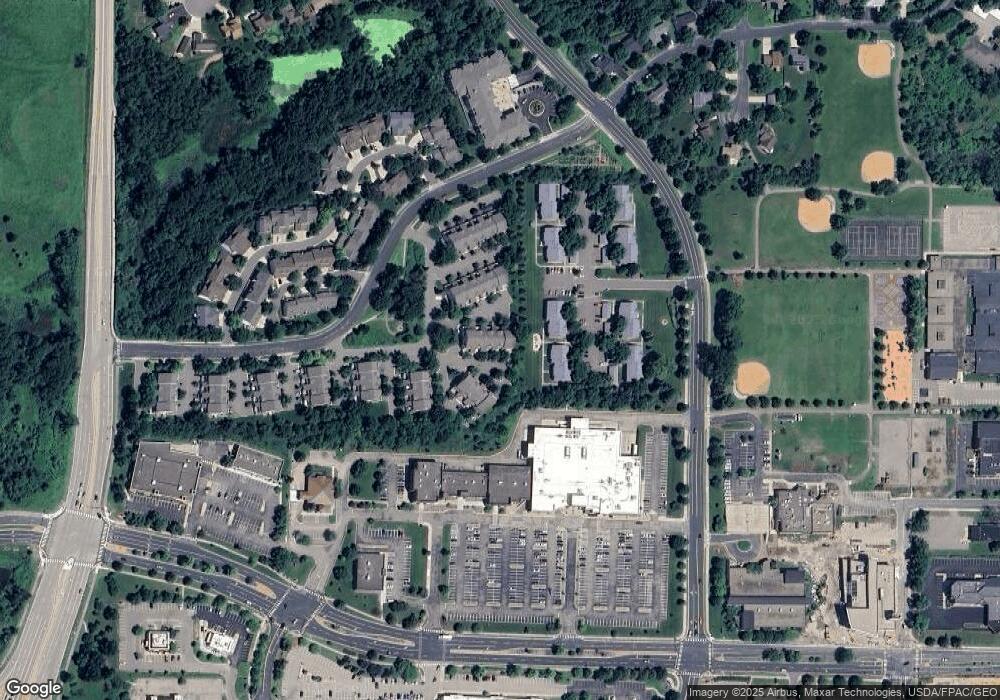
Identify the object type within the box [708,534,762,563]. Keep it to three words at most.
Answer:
roundabout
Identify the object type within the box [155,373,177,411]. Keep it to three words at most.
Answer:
house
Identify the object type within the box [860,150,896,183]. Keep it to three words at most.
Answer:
baseball field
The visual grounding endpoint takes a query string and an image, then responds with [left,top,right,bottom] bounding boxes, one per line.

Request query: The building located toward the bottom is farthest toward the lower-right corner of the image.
[945,576,1000,634]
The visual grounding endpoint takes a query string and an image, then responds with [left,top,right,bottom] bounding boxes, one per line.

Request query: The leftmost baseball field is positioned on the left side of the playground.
[733,360,771,401]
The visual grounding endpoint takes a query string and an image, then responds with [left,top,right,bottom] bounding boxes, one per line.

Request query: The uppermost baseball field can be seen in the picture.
[857,41,895,79]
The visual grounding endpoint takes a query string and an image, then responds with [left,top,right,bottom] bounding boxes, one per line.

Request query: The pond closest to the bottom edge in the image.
[270,49,343,87]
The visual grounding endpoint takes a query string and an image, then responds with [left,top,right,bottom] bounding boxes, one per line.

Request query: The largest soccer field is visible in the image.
[733,276,868,404]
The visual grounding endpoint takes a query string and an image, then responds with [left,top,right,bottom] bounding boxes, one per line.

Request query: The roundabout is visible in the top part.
[515,65,557,136]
